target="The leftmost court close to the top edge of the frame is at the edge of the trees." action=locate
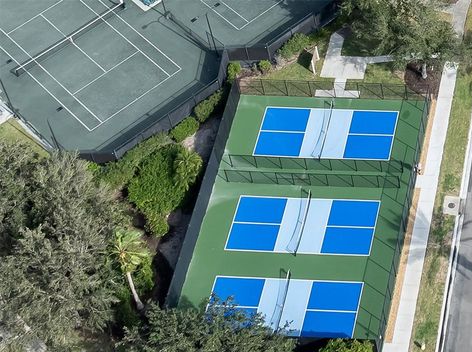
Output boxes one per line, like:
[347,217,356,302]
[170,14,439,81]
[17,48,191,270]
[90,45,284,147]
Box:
[0,0,178,129]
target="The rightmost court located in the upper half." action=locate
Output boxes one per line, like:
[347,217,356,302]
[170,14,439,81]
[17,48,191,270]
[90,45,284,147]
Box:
[253,107,399,160]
